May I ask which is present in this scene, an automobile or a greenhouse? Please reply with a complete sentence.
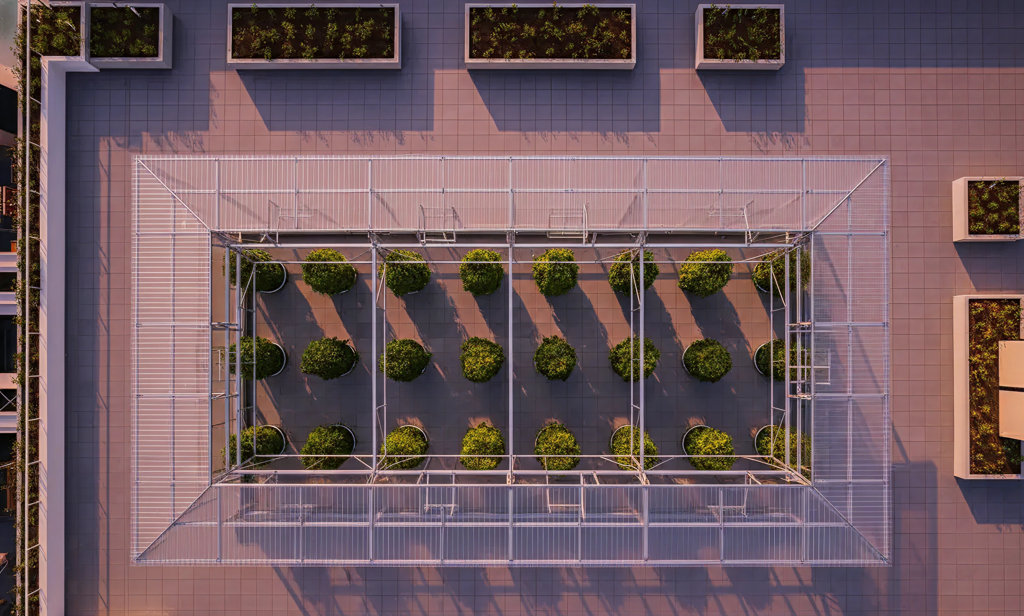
Of the two, only a greenhouse appears.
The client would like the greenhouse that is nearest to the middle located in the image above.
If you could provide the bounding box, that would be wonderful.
[129,152,895,570]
